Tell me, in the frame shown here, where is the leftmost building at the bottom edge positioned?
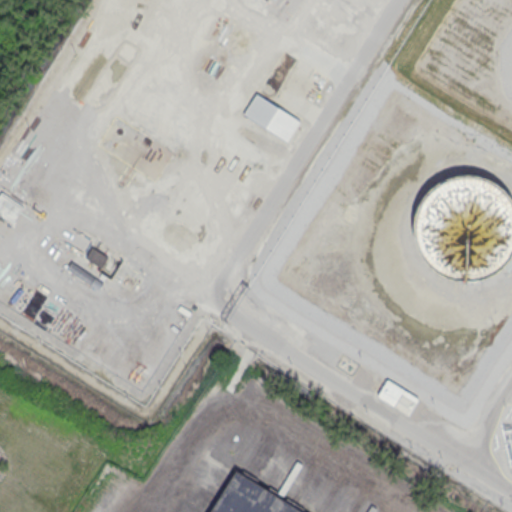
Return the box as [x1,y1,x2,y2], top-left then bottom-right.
[215,471,308,512]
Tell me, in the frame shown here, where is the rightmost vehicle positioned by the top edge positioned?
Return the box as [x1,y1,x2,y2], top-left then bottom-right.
[131,12,144,29]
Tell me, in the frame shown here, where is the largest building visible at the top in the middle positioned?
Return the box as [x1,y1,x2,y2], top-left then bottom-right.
[245,94,300,142]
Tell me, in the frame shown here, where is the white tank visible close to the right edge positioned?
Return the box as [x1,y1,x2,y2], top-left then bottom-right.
[412,176,512,283]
